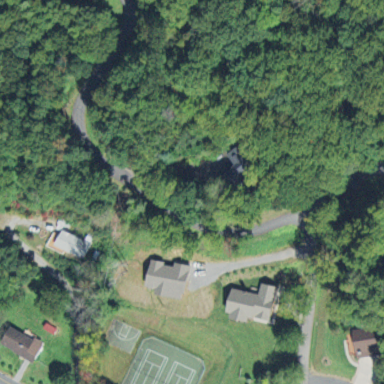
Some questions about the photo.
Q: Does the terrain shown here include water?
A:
No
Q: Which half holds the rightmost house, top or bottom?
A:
bottom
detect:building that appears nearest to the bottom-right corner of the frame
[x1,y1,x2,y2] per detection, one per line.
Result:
[347,327,378,356]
